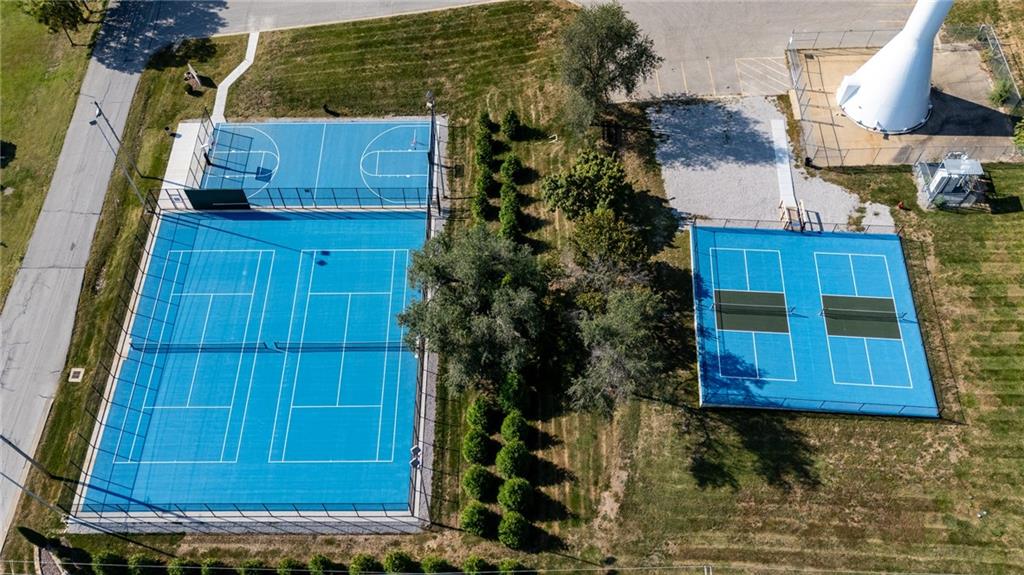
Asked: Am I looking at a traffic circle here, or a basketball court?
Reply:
basketball court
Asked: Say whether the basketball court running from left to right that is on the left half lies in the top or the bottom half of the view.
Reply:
top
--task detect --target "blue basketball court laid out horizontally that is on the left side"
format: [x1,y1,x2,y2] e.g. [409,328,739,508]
[163,122,430,211]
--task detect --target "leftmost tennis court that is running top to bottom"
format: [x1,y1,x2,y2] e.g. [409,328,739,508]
[85,209,294,512]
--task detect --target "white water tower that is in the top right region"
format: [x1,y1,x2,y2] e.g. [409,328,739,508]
[834,0,953,138]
